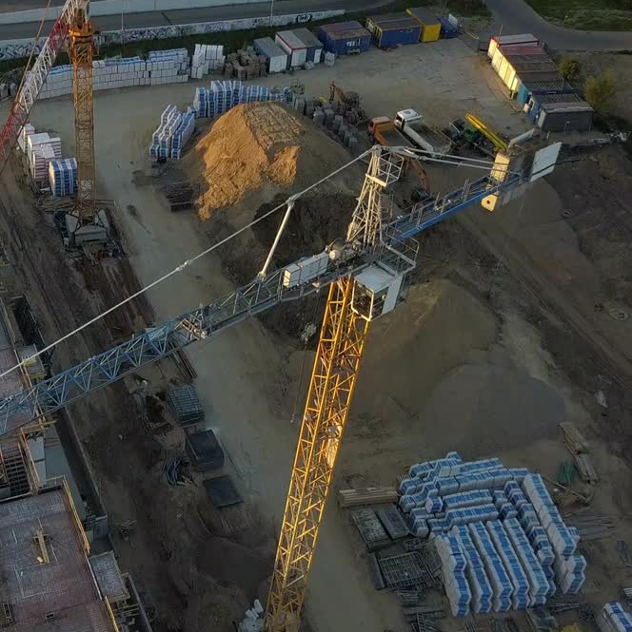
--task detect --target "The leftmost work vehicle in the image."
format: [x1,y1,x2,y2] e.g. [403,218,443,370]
[302,80,383,125]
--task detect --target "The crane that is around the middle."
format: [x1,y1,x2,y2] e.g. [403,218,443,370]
[0,120,563,632]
